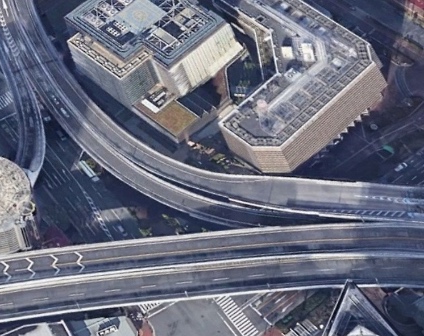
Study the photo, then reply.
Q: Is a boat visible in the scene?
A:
No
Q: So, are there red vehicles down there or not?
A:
No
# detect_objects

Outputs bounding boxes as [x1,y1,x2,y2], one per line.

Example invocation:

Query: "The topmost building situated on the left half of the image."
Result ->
[65,0,241,143]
